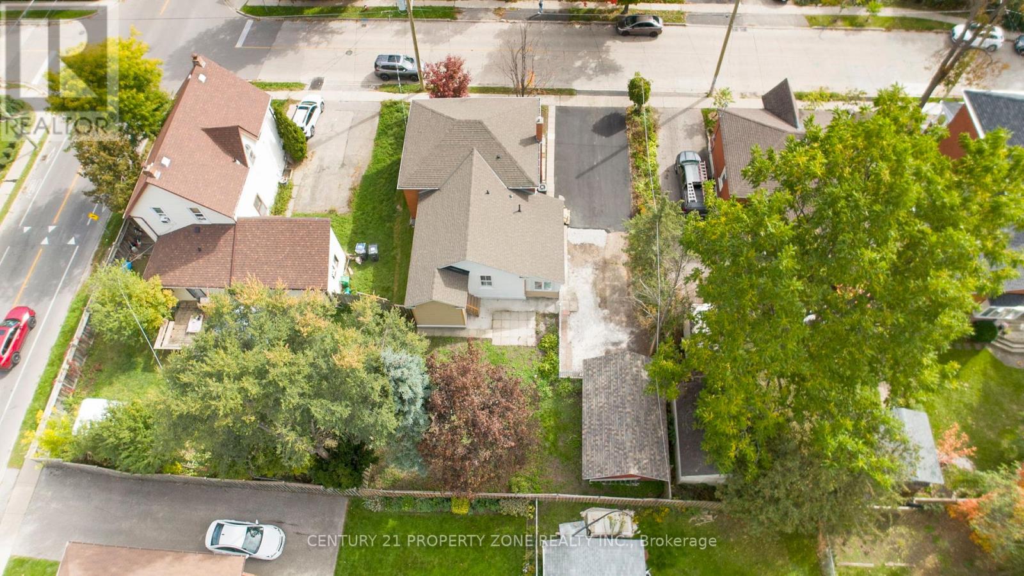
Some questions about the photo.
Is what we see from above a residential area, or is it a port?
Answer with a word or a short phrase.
residential area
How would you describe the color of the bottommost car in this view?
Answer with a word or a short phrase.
white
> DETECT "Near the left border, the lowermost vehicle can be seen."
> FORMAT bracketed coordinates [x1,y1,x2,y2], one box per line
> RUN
[0,312,40,369]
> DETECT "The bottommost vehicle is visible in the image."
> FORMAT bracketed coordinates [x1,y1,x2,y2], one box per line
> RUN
[205,522,286,560]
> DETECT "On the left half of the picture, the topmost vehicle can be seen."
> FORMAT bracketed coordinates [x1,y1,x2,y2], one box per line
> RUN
[373,58,423,83]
